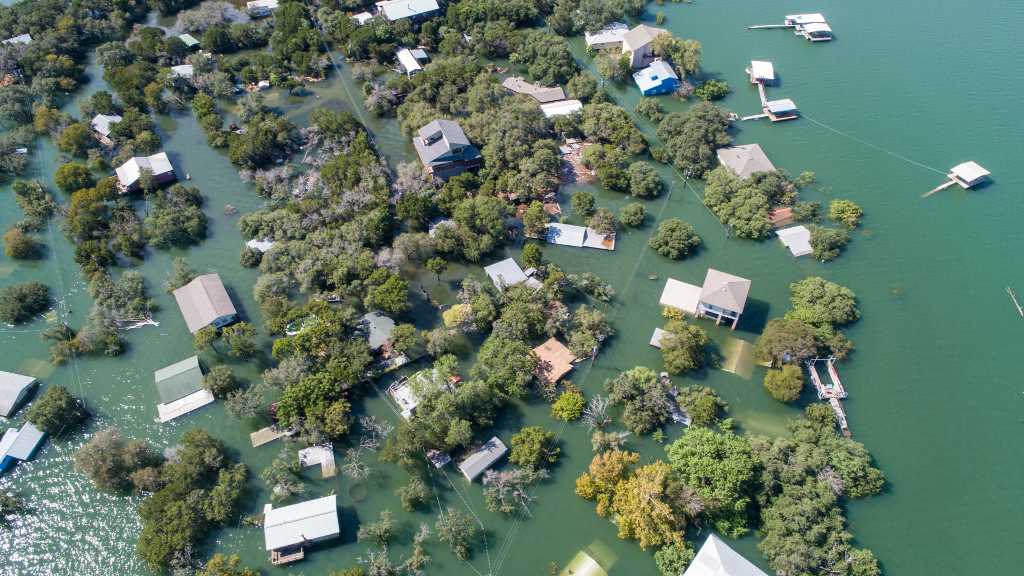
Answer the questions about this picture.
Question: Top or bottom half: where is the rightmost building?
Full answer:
The top half of the photo is where the rightmost building is.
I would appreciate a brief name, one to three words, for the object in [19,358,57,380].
house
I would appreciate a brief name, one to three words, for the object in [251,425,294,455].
shed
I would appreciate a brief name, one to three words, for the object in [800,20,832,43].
building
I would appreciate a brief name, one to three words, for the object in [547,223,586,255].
house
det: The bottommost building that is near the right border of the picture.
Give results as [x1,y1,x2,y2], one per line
[944,160,989,192]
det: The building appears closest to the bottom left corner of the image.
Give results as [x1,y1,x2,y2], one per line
[0,421,51,471]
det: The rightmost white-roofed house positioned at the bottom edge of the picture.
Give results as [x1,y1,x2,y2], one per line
[683,534,767,576]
